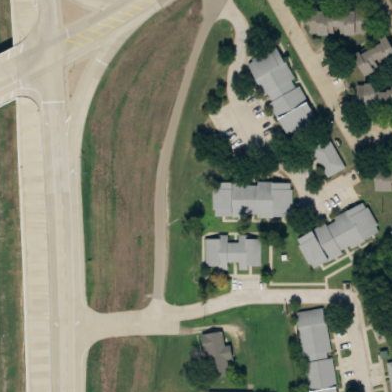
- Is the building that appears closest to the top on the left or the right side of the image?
right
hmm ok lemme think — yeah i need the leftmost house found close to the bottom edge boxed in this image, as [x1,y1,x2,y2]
[202,333,233,376]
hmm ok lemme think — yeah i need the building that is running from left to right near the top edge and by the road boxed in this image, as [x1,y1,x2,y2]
[306,11,364,36]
